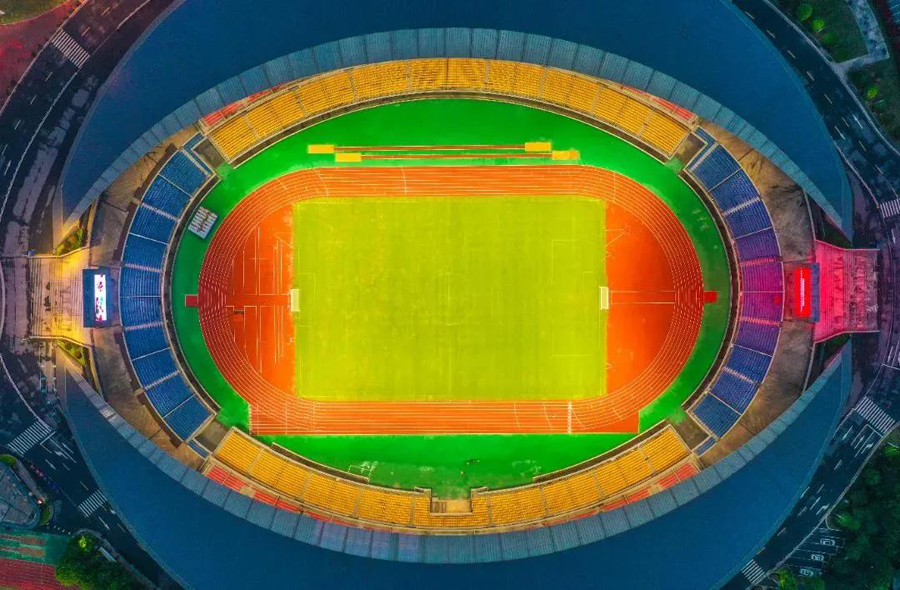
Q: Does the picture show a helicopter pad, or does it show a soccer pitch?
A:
soccer pitch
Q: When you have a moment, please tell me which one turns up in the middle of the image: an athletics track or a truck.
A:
athletics track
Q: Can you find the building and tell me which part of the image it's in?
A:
bottom left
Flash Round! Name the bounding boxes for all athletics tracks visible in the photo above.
[186,166,716,434]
